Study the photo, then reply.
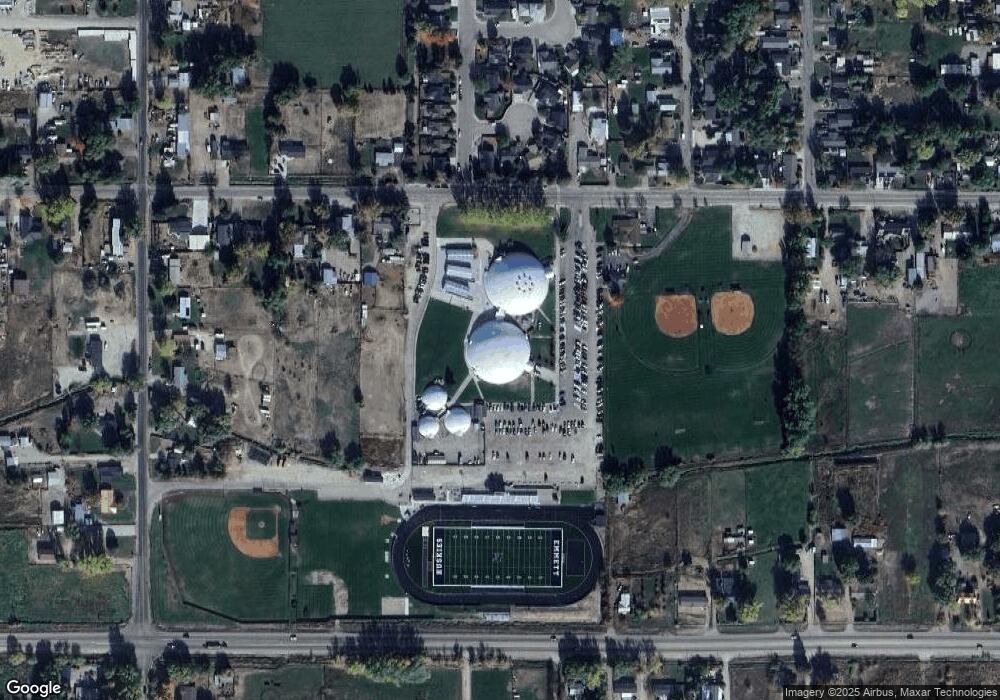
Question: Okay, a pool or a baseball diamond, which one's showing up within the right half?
baseball diamond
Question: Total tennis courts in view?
0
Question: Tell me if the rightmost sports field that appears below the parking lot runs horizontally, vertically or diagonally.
horizontally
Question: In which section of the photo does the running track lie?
bottom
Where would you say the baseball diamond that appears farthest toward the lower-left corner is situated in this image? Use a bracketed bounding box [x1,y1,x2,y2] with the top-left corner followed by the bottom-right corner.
[160,492,290,620]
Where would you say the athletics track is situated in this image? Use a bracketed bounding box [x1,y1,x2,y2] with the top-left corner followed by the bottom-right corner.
[392,505,604,604]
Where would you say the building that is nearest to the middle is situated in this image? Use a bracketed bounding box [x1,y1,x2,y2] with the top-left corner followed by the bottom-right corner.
[465,311,535,384]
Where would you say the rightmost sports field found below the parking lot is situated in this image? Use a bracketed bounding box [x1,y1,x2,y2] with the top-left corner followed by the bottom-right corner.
[405,520,592,595]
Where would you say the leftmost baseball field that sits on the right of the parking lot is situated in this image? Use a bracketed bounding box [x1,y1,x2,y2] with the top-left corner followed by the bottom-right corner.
[617,262,704,376]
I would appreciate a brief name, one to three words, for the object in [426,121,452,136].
house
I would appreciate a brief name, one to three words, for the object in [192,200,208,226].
barn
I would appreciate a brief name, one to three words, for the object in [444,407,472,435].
building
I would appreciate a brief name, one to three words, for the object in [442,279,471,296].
greenhouse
